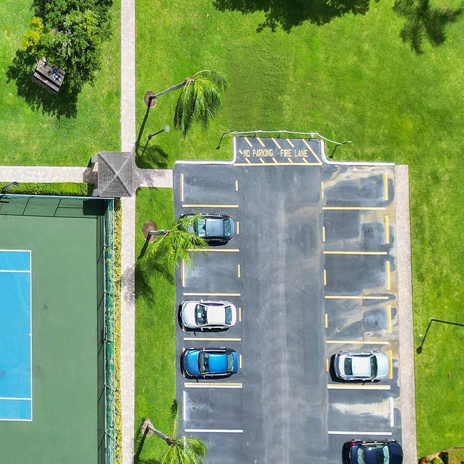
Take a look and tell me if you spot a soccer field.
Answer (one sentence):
No, there appears to be no soccer field in this shot.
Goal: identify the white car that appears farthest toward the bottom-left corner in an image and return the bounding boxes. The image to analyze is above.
[182,299,242,336]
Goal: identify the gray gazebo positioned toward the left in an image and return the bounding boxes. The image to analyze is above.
[90,151,135,197]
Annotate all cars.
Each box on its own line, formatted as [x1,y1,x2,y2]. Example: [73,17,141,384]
[335,350,394,387]
[346,441,407,464]
[186,212,241,246]
[182,299,242,336]
[184,347,244,384]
